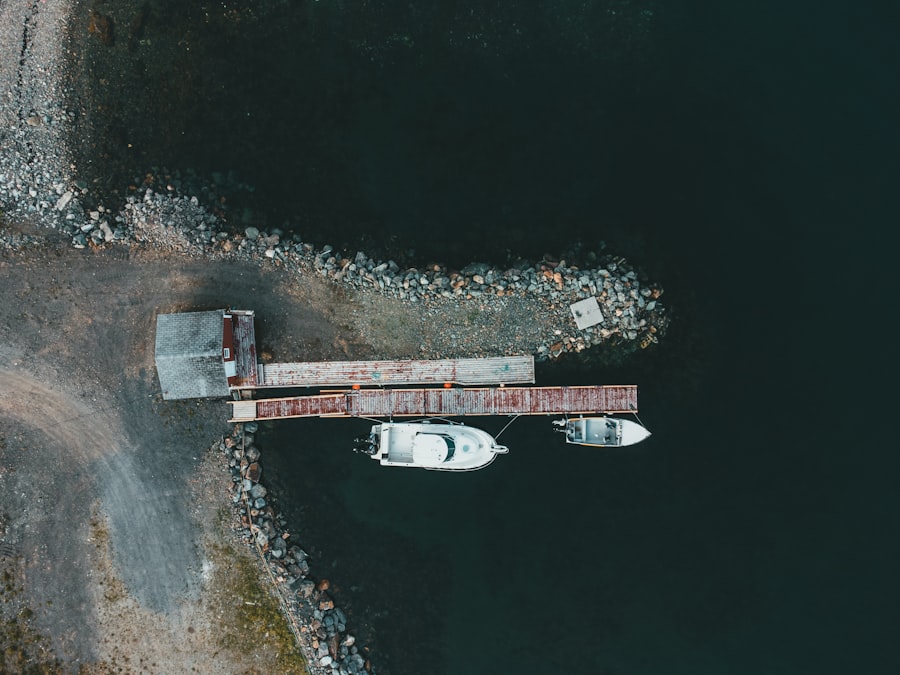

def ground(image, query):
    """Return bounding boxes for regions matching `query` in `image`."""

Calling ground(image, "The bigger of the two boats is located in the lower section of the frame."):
[357,423,510,473]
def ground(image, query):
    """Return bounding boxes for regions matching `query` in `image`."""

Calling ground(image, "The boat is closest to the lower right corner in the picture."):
[548,417,652,446]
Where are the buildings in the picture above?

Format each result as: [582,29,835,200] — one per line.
[154,309,242,400]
